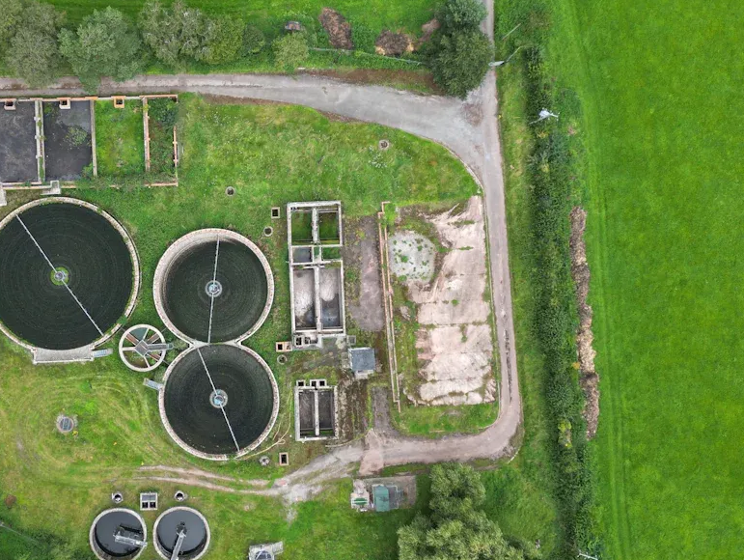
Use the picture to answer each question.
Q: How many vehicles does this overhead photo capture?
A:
0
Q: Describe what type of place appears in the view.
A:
industrial area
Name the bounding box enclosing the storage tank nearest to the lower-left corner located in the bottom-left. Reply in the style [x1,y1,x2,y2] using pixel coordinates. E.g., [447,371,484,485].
[88,507,147,560]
